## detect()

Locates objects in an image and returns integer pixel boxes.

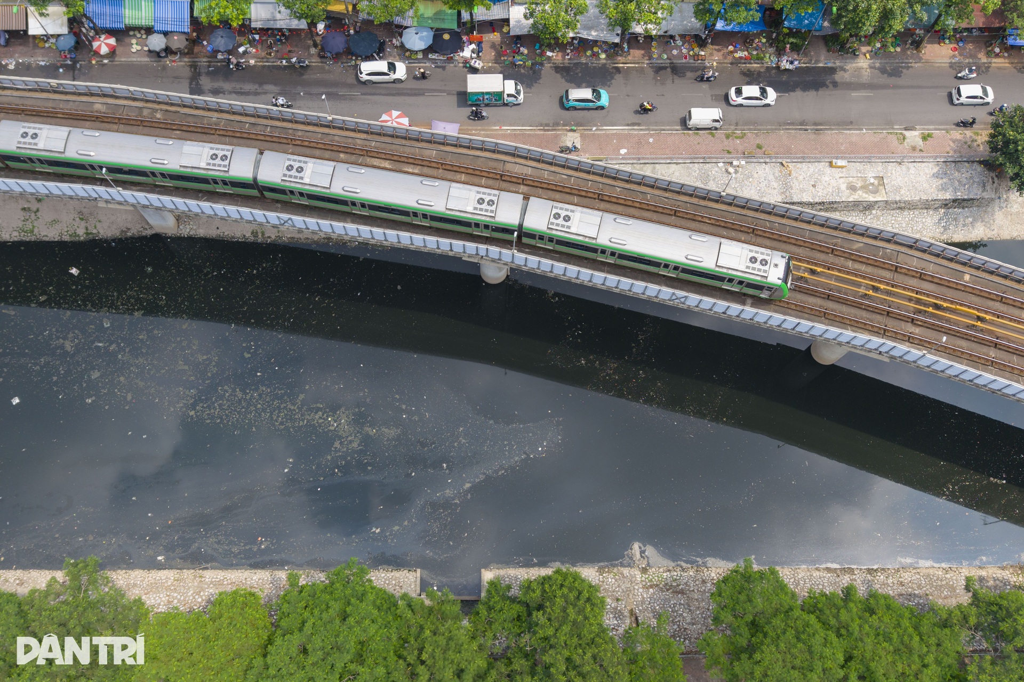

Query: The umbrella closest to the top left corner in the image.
[55,34,79,58]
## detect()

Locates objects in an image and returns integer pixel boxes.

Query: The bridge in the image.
[0,92,1024,409]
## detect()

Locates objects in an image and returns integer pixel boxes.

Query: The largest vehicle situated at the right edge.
[954,82,997,106]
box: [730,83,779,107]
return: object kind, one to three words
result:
car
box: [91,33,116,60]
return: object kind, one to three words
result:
umbrella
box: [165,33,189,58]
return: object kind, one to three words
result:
umbrella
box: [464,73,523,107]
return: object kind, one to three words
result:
truck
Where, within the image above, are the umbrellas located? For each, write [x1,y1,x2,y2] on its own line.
[431,115,460,133]
[209,29,236,57]
[432,29,462,58]
[379,106,409,124]
[321,32,348,59]
[402,27,433,53]
[146,34,167,58]
[55,34,79,58]
[91,33,116,60]
[165,33,189,58]
[348,31,380,58]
